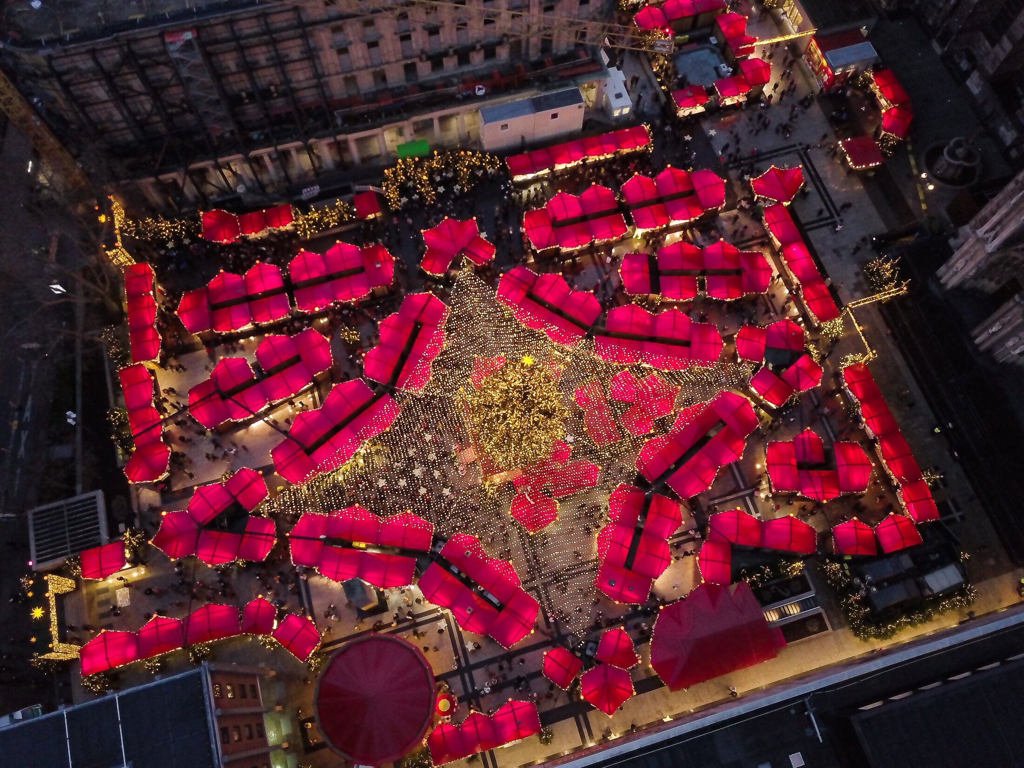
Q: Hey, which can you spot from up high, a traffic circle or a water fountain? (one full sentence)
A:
Looking from above, you can make out a water fountain.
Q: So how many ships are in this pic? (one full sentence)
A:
The photo contains no ships.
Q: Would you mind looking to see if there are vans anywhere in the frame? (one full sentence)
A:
Yes, there is a van in the image.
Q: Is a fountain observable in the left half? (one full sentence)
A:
No, I can find no fountain in the left half.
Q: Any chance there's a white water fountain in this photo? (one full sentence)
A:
No, there appears to be no white water fountain in this shot.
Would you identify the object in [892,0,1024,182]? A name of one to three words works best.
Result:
building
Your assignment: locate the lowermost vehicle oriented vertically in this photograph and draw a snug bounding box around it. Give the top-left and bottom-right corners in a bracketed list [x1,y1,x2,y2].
[603,68,632,127]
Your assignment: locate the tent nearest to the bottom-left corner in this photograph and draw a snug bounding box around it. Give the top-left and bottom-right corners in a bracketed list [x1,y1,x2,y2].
[316,635,437,764]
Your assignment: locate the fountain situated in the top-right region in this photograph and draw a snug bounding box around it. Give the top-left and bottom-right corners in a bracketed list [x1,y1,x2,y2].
[916,131,991,194]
